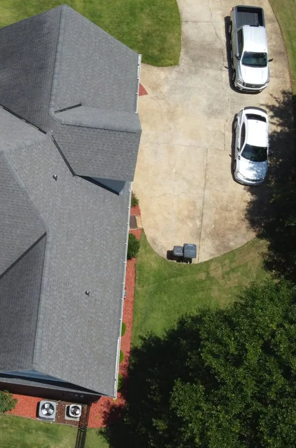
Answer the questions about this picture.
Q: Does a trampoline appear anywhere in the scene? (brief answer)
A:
No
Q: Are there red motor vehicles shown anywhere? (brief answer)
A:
No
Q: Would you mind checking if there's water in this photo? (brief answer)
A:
No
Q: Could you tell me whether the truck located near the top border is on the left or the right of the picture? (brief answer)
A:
right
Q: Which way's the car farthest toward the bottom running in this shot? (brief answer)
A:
up and down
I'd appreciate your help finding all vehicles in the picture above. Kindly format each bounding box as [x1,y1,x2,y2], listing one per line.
[230,105,273,190]
[228,5,274,95]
